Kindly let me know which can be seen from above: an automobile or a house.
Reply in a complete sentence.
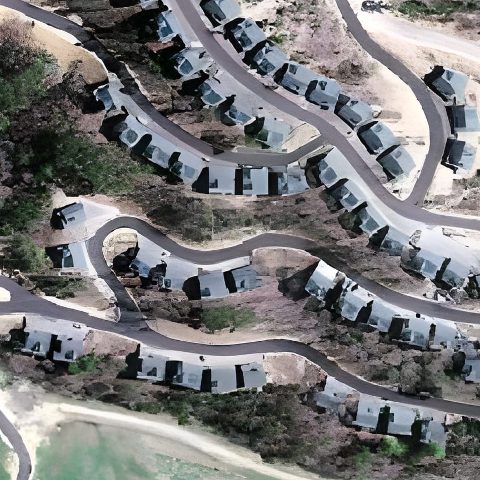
The image shows a house.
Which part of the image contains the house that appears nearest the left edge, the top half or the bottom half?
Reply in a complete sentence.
The house that appears nearest the left edge sits in the bottom half of the picture.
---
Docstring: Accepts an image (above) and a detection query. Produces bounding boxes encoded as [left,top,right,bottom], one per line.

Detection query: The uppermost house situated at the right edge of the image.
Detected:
[426,65,472,105]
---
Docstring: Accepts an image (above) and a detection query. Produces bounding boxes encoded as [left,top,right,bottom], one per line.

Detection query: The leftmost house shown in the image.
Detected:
[24,327,56,359]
